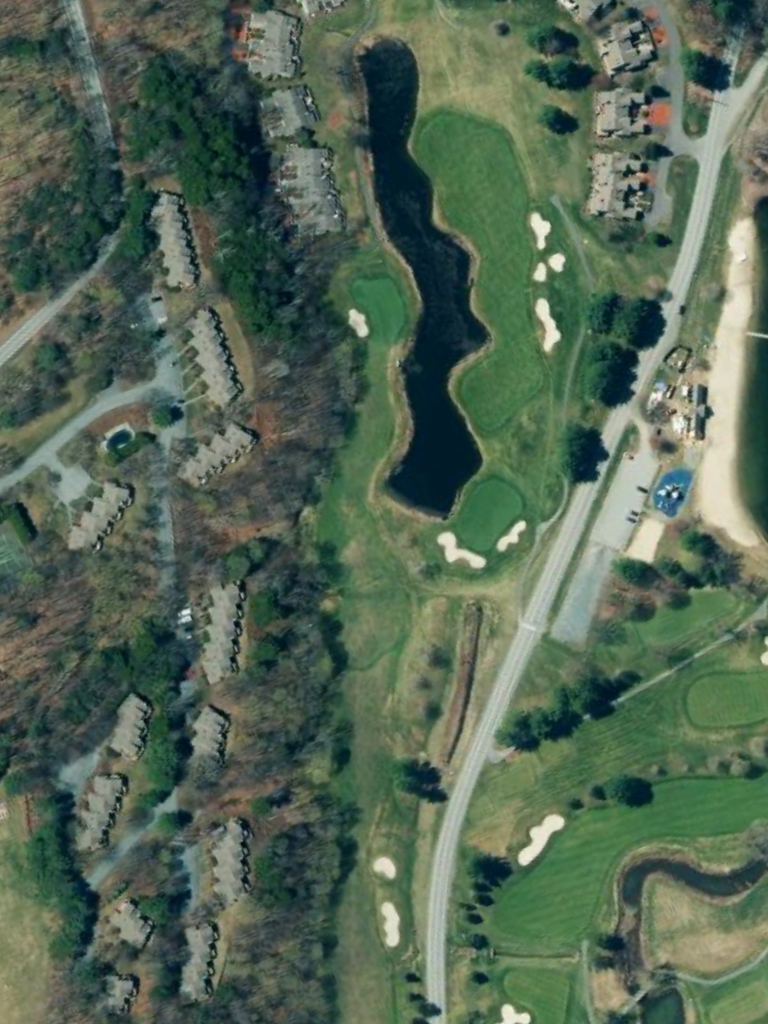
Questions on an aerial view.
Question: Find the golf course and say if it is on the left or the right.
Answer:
right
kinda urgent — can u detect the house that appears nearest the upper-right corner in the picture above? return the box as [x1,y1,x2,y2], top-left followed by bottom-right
[610,15,659,77]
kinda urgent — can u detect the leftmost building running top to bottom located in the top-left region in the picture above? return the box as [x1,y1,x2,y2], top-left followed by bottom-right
[155,188,200,290]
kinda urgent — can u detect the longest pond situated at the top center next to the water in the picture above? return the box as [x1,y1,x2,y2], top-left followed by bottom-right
[361,41,492,516]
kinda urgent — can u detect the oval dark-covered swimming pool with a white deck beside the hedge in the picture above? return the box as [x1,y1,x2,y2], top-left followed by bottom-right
[100,422,137,454]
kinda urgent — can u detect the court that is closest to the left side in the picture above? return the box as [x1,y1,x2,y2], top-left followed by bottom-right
[0,519,36,598]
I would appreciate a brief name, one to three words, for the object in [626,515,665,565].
sports court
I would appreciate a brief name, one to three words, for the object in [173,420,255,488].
house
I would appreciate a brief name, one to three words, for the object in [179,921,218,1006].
house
